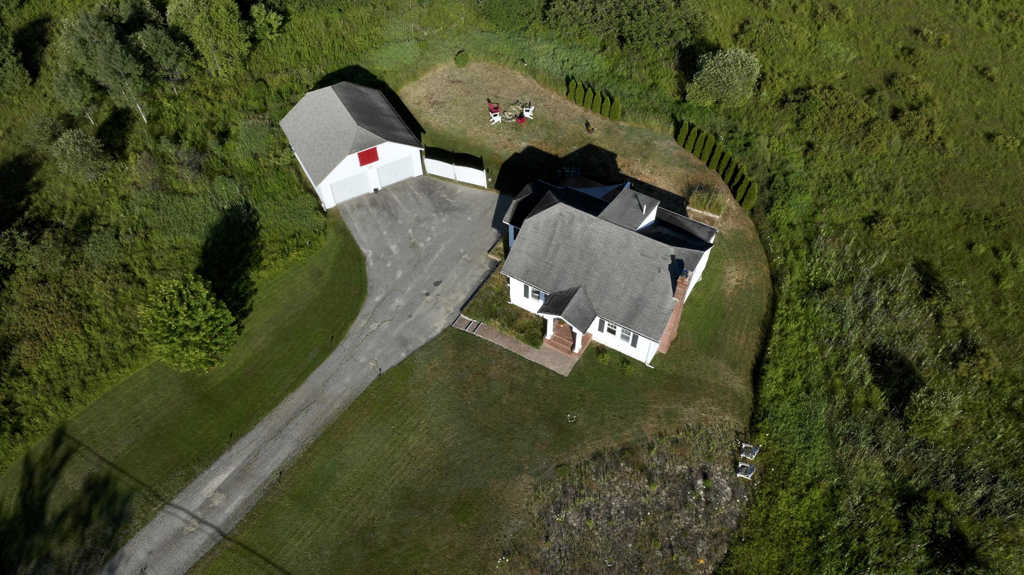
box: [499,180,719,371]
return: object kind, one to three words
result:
house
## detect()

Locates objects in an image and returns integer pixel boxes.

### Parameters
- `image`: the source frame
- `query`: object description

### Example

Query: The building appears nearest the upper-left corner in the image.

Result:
[277,81,425,211]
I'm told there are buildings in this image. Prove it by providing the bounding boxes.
[277,81,425,211]
[499,180,719,371]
